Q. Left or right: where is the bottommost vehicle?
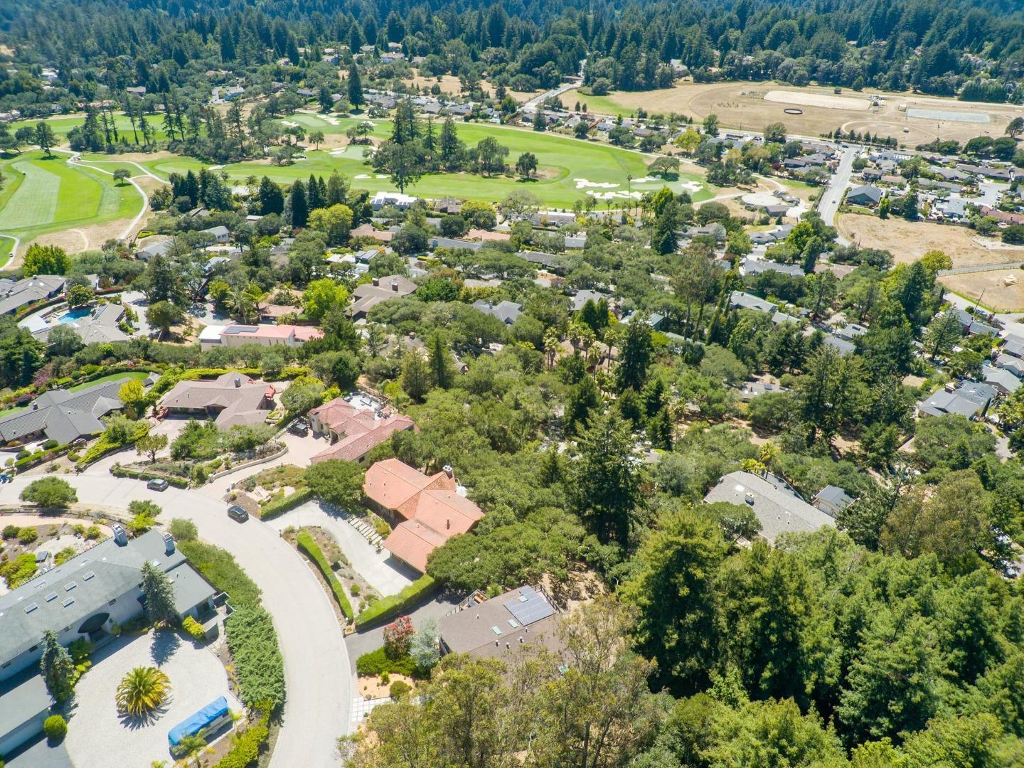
left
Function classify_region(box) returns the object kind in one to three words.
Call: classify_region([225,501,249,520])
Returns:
car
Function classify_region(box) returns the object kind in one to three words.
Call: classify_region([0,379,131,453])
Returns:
house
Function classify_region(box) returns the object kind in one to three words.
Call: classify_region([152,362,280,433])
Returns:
house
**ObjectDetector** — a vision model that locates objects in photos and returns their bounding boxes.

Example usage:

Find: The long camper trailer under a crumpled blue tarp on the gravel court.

[164,693,235,752]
